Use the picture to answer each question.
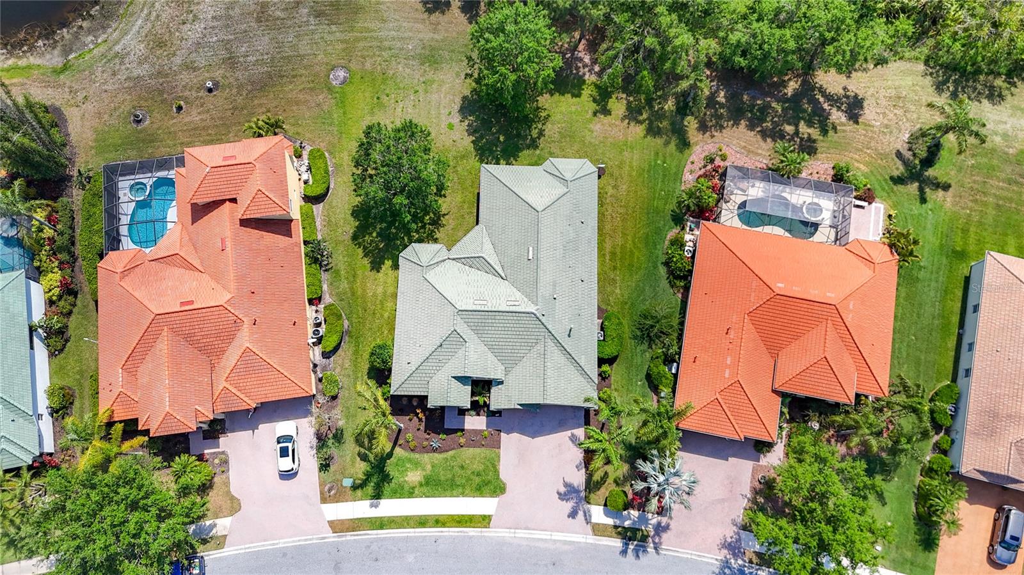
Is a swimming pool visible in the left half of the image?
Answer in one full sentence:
Yes, looking in the left half of the image, one can make out a swimming pool.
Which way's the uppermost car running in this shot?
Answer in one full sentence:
The uppermost car has been laid out up and down relative to the frame.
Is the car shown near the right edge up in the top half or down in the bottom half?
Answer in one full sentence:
The bottom half of the photo is where the car shown near the right edge is.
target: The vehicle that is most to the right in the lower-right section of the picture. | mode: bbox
[987,503,1024,567]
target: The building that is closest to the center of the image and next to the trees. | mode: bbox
[391,157,599,411]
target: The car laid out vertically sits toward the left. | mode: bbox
[272,420,300,476]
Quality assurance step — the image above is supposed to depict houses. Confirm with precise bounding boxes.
[0,268,54,469]
[677,220,901,443]
[96,134,320,439]
[391,157,599,411]
[947,250,1024,496]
